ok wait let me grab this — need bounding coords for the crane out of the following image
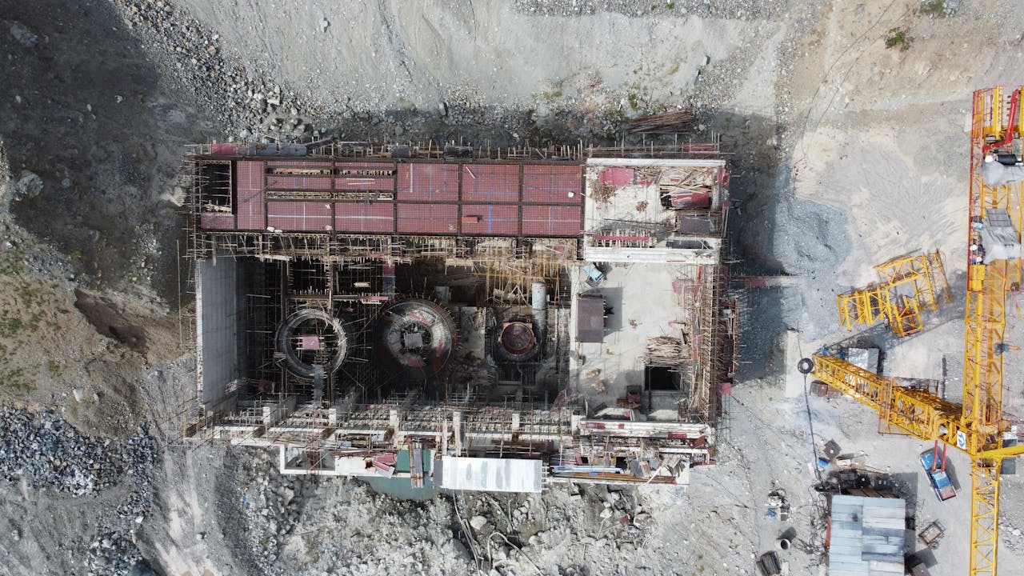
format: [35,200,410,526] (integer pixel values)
[807,82,1024,576]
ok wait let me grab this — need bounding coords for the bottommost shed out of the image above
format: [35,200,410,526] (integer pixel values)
[824,487,907,576]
